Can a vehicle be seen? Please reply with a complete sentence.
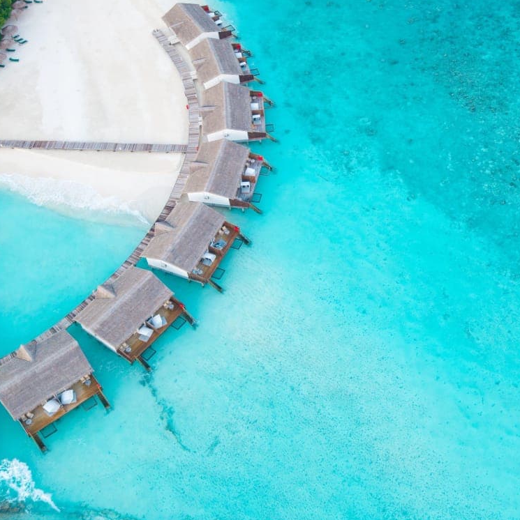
No, there is no vehicle in the image.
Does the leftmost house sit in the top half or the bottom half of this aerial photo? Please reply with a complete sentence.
It is in the bottom half that the leftmost house appears.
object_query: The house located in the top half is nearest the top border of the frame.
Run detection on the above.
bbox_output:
[160,3,246,53]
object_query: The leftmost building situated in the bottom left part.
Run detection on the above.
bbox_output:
[0,330,112,455]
